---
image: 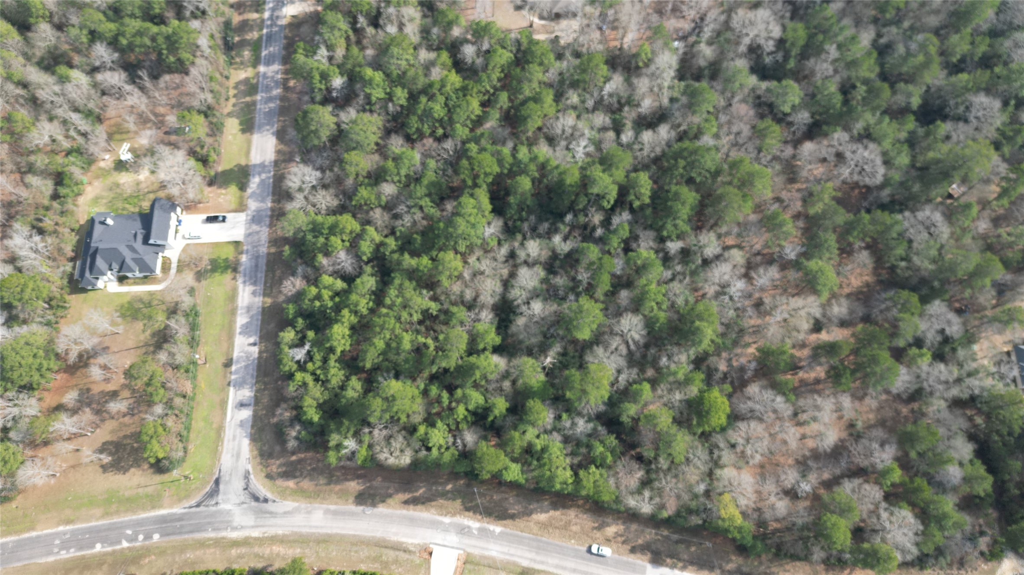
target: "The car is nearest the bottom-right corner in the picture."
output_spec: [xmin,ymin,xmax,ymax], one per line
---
[591,545,612,558]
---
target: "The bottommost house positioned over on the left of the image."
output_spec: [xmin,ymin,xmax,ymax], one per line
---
[73,196,184,291]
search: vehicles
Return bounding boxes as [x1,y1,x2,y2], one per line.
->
[205,215,227,224]
[184,231,202,240]
[591,545,612,558]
